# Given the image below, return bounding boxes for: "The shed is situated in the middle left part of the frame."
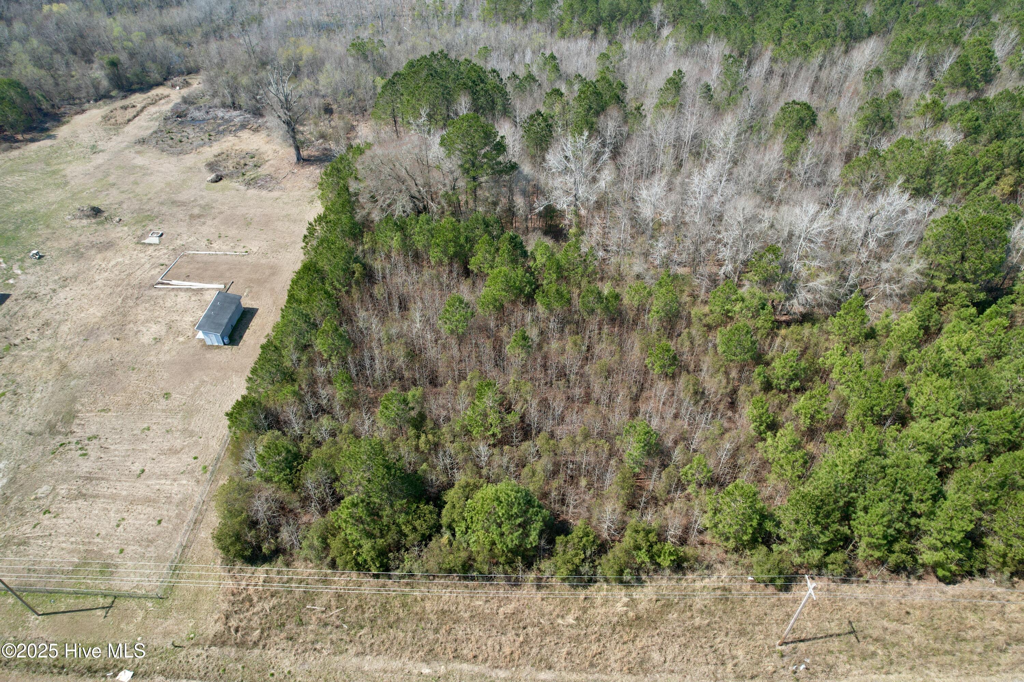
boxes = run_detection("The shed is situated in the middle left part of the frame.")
[193,292,244,345]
